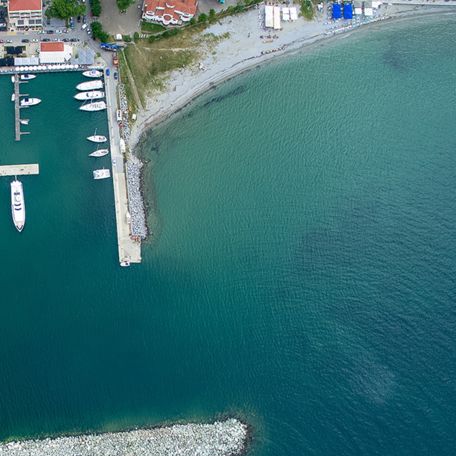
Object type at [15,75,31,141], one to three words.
pier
